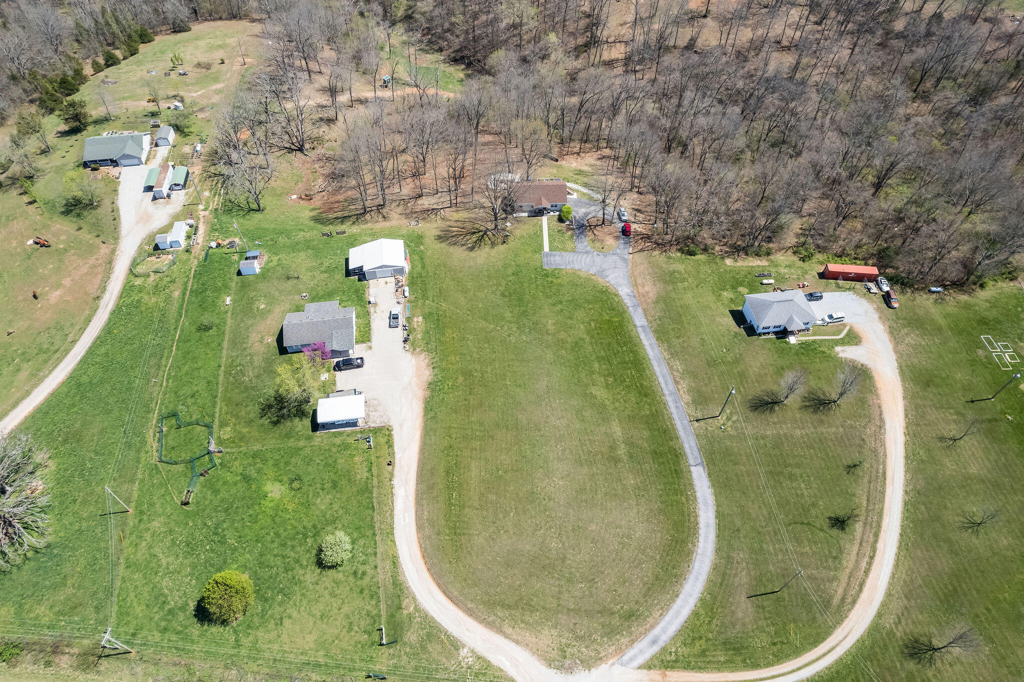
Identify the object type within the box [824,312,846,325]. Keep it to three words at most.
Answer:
vehicle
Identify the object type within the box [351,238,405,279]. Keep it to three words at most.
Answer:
barn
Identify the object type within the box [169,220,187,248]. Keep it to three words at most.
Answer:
shed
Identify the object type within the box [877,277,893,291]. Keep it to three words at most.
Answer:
car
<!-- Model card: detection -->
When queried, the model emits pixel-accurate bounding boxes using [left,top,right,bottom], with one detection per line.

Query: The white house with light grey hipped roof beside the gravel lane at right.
[743,289,819,340]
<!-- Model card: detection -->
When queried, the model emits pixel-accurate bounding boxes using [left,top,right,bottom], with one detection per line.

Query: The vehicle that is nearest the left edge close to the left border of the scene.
[30,235,52,249]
